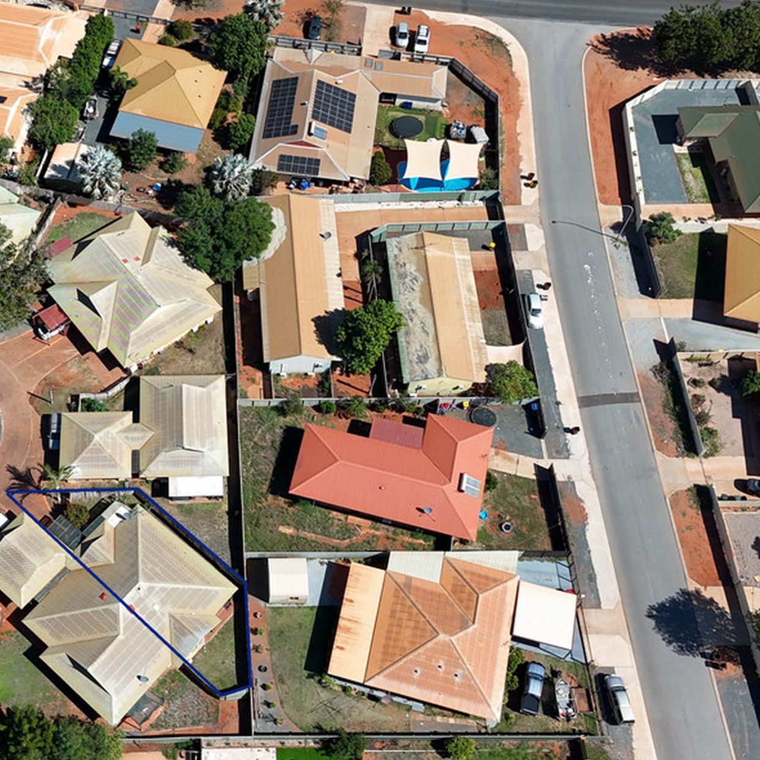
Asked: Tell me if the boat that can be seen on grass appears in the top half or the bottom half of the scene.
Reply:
bottom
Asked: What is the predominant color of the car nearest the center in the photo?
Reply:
white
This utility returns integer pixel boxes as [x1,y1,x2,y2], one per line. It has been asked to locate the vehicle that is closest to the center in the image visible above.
[523,292,545,327]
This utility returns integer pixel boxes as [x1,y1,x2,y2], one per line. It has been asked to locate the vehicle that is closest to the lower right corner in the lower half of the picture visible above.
[603,669,639,727]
